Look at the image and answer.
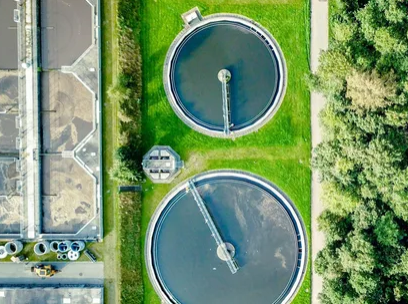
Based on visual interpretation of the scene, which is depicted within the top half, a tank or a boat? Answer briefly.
tank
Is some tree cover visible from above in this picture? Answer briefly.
Yes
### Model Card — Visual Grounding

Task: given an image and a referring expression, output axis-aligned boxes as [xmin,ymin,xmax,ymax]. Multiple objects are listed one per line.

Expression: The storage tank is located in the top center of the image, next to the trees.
[164,14,289,138]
